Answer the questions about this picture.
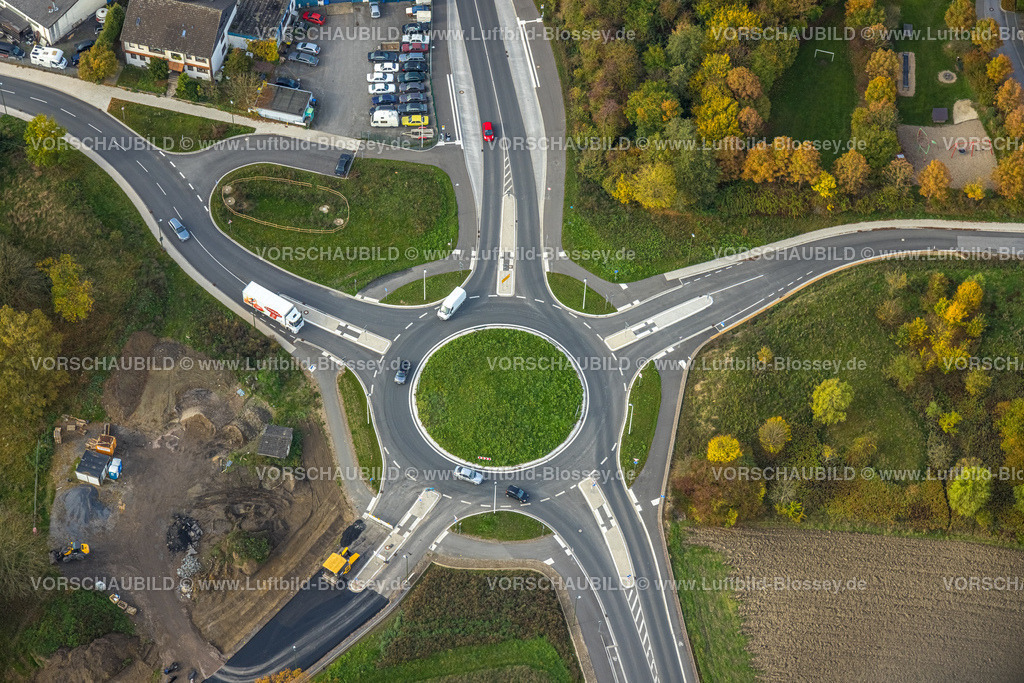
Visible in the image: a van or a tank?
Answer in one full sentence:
The image shows a van.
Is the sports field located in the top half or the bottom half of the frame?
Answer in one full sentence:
The sports field is in the top half of the image.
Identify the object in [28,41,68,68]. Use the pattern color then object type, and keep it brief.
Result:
white camper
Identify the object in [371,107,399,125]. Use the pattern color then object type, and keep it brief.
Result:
white vehicle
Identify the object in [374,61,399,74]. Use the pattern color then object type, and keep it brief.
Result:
white vehicle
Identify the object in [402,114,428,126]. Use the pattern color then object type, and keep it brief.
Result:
yellow vehicle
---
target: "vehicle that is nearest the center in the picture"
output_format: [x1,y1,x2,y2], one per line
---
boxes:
[435,283,467,317]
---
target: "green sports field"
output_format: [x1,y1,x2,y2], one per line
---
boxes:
[765,0,879,200]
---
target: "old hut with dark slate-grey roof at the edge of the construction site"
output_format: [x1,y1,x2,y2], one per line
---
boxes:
[257,425,293,461]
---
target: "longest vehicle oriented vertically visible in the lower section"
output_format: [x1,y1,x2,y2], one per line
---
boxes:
[94,415,114,454]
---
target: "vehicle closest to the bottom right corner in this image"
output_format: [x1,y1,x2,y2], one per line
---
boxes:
[504,483,532,504]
